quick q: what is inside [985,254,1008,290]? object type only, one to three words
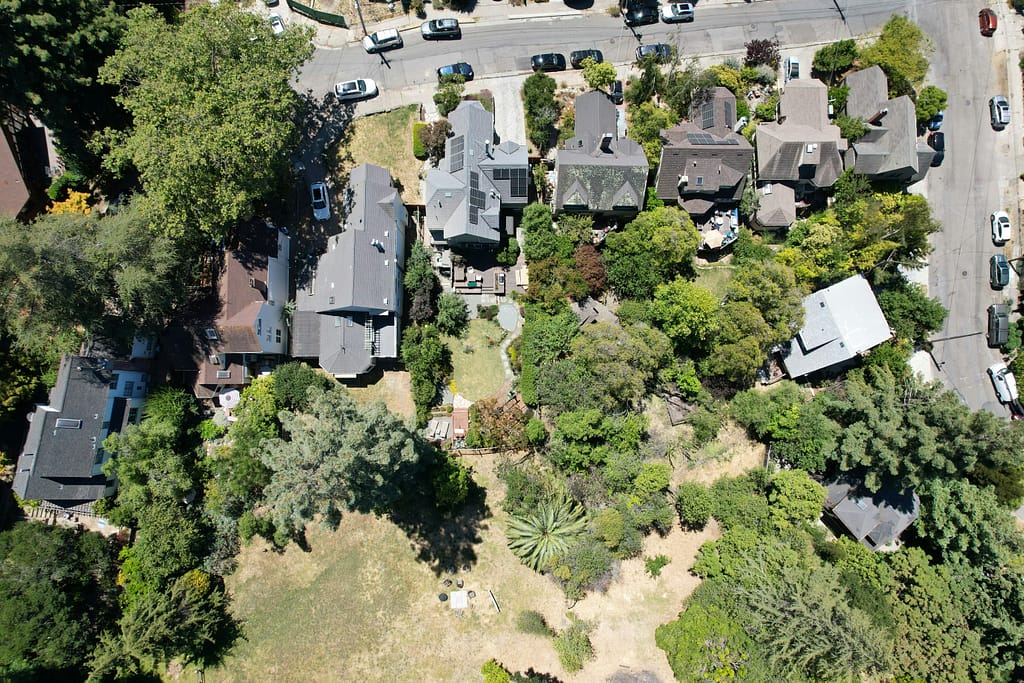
car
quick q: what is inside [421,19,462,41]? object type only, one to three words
car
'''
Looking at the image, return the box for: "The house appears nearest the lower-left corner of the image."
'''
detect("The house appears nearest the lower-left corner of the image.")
[12,353,147,499]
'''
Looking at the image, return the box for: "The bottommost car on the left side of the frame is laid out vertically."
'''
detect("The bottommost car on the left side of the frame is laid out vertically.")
[311,182,331,221]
